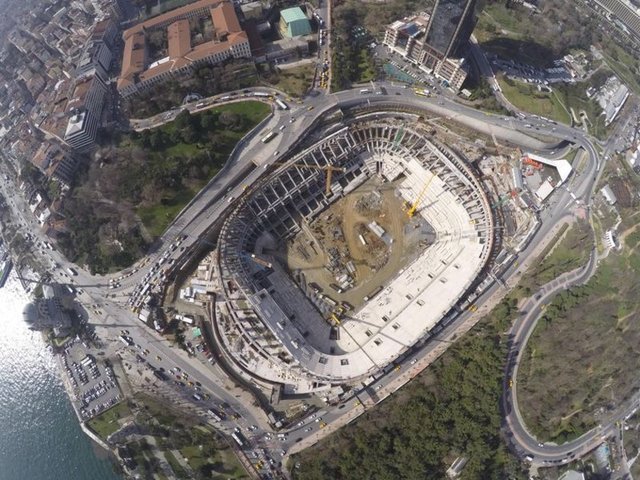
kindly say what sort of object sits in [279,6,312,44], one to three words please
building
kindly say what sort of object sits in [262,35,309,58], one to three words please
building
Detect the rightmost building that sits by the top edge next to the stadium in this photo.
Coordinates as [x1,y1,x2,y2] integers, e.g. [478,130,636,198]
[384,0,488,88]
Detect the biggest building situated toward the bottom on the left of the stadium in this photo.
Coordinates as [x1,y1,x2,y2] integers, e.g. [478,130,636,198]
[21,277,84,343]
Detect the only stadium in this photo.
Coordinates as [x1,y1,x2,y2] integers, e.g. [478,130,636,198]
[211,120,506,406]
